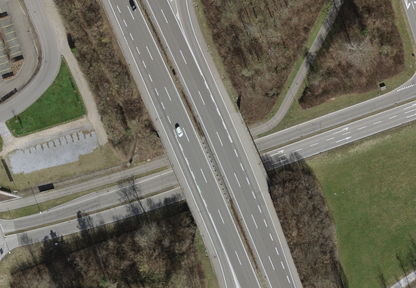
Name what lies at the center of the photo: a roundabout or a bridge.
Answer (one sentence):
There is a bridge at the center of the photo.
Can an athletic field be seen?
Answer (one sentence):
No, I can see no athletic field in this picture.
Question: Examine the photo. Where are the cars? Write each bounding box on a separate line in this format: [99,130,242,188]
[176,127,183,138]
[130,0,137,10]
